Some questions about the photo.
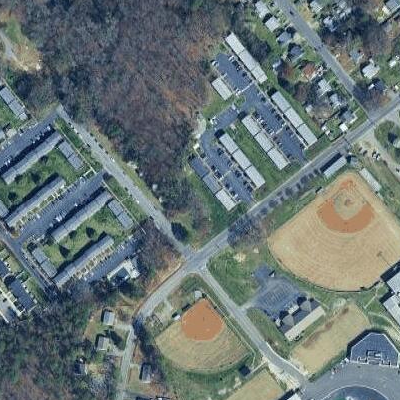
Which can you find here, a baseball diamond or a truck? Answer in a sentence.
This aerial view contains a baseball diamond.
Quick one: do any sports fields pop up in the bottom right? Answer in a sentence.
Yes, looking in the bottom right, one can make out a sports field.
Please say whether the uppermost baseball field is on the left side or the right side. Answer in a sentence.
You can find the uppermost baseball field on the right side of the picture.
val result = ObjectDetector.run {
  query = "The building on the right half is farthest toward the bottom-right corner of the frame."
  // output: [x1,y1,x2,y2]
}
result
[350,333,400,368]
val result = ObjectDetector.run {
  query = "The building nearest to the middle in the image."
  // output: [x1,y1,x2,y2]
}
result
[189,154,235,211]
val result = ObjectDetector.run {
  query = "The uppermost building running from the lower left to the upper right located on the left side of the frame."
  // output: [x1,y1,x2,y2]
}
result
[1,129,63,183]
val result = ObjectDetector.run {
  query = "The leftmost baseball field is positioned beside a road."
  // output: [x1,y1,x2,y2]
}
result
[156,300,251,370]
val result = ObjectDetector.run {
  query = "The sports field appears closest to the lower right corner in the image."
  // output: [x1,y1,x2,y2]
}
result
[290,302,369,376]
